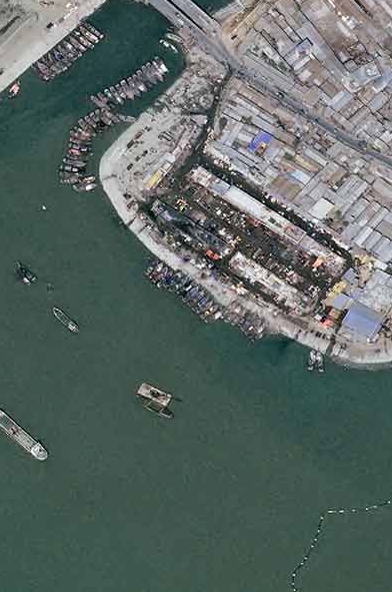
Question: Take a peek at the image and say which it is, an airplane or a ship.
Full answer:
Looking from above, you can make out a ship.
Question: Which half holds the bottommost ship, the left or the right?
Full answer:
The bottommost ship appears in the left half of the scene.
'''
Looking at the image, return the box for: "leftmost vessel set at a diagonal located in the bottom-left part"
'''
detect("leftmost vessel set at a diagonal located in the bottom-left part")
[0,410,49,462]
